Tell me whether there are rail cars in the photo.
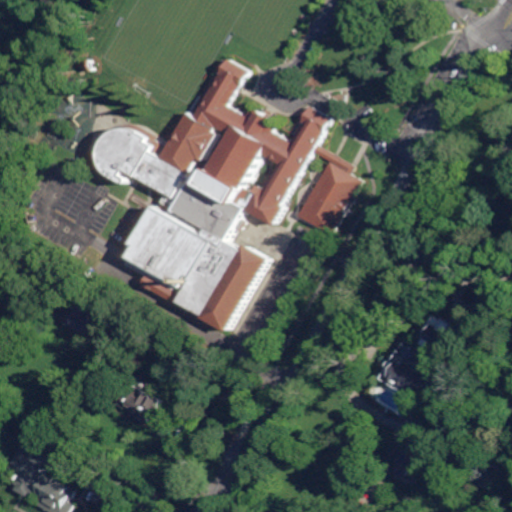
No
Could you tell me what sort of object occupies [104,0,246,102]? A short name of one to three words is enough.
sports field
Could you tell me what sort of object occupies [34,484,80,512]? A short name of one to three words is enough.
house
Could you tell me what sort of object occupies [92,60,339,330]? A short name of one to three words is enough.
building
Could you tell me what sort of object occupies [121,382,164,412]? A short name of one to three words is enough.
house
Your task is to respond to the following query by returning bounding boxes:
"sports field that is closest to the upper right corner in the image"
[224,0,308,60]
